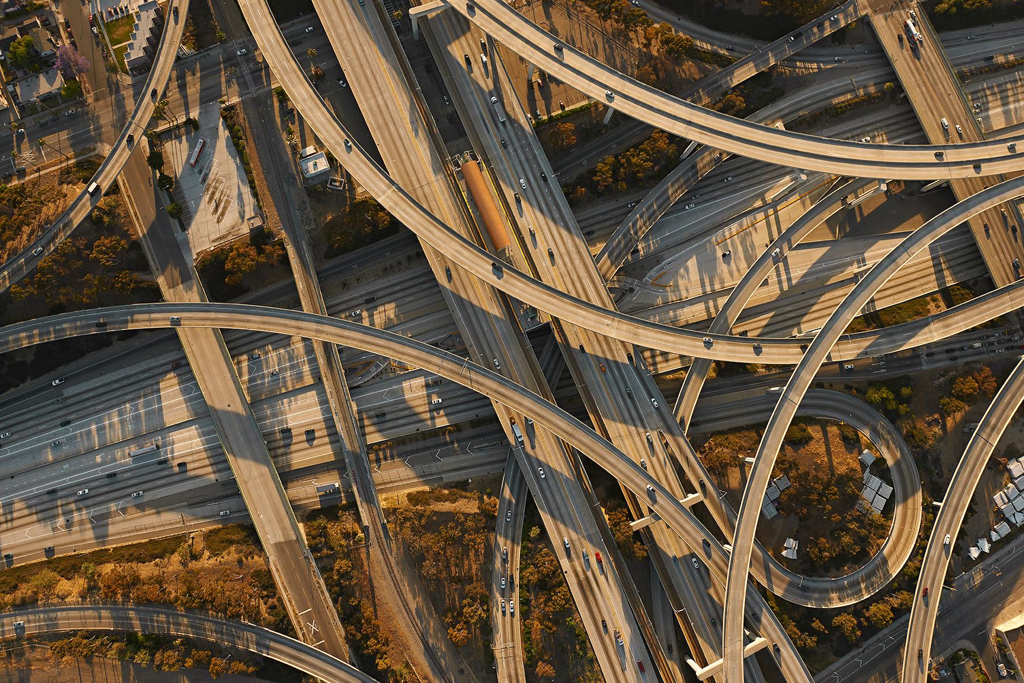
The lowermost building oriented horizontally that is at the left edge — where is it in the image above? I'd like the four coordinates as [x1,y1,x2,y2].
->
[14,73,66,104]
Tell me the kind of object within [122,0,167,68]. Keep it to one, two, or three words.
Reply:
building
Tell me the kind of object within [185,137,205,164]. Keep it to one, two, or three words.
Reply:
bus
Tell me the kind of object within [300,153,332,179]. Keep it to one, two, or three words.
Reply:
building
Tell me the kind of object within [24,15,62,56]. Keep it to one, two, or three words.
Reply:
house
